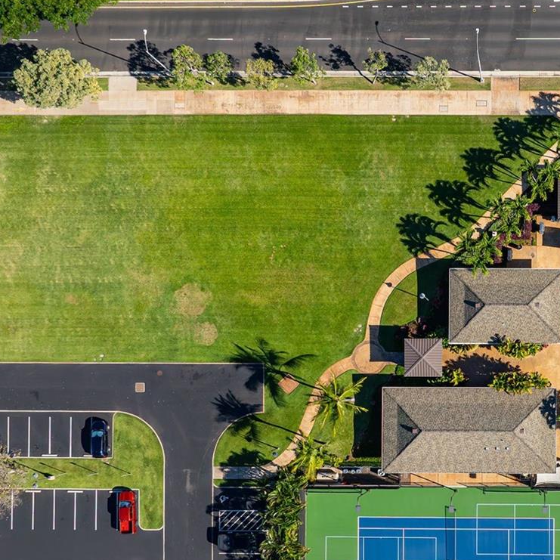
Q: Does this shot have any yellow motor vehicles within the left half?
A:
No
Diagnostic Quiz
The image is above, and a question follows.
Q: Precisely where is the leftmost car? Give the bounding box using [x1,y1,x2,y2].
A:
[87,417,109,456]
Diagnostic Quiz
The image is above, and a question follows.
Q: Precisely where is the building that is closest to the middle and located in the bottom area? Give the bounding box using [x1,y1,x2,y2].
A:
[403,337,443,378]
